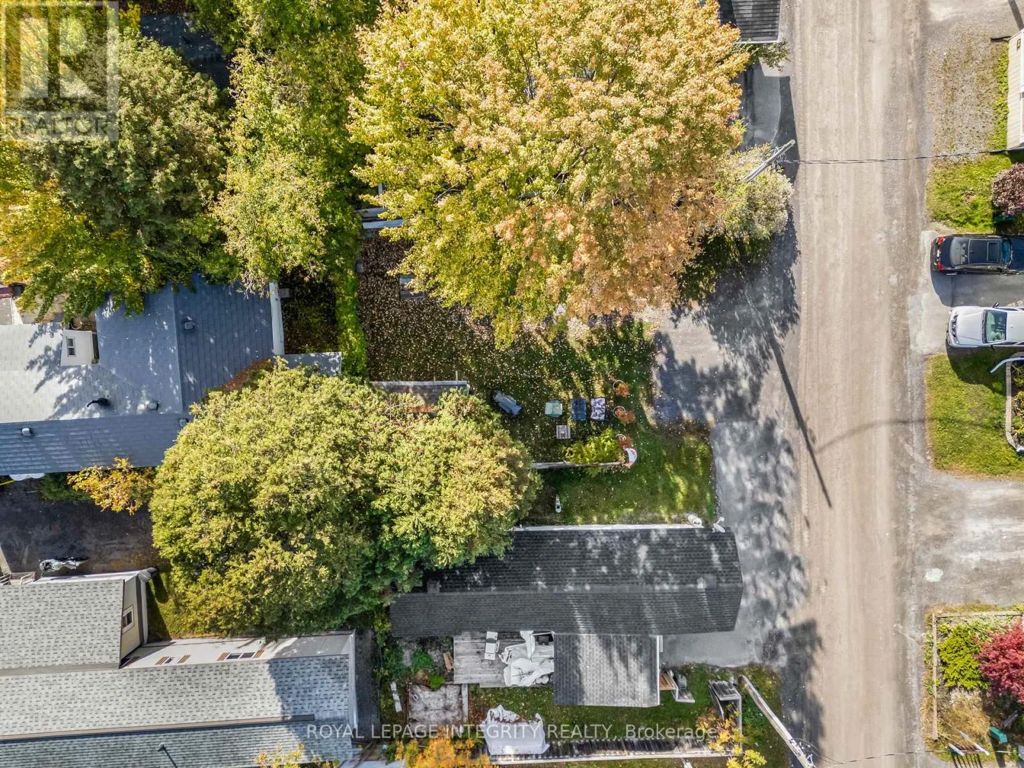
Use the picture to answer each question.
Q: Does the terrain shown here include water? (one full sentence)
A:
No, the scene doesn't show any water.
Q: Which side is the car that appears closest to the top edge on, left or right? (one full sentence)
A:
The car that appears closest to the top edge is on the right side of the image.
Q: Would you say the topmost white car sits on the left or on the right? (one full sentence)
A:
The topmost white car appears in the right half of the scene.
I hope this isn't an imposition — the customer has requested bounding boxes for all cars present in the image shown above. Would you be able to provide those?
[943,299,1024,354]
[929,228,1024,281]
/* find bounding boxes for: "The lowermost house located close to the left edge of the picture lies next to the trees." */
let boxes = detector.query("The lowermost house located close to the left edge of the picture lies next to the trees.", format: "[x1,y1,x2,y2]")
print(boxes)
[0,578,364,768]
